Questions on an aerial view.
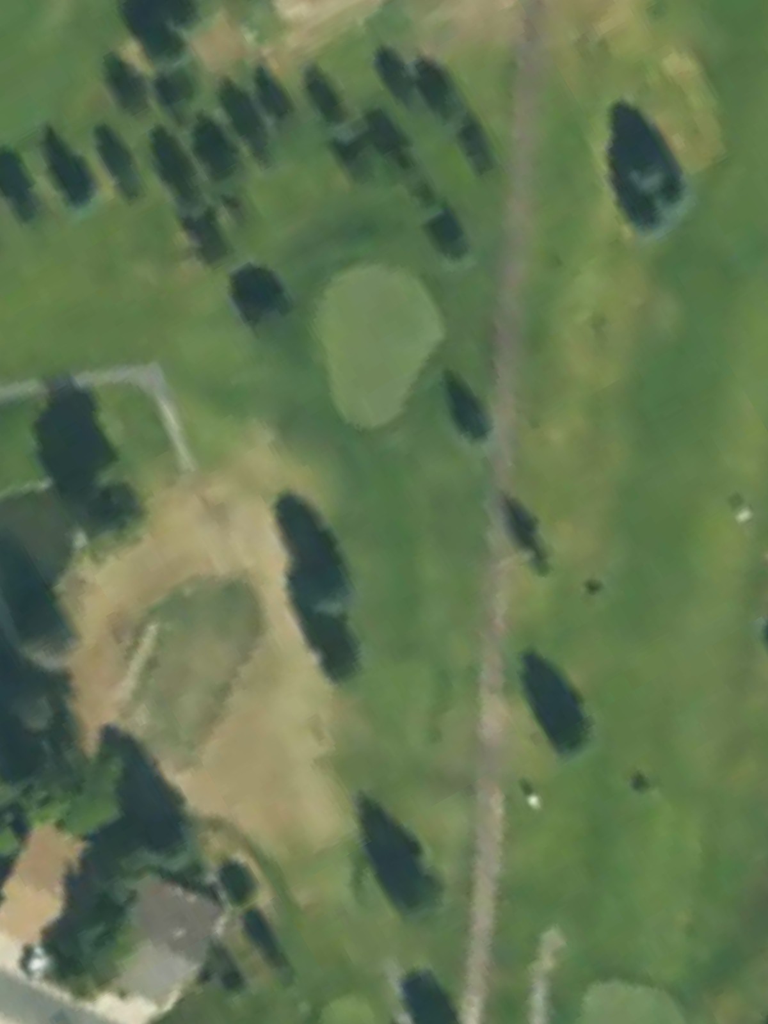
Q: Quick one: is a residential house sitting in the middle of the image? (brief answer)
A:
No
